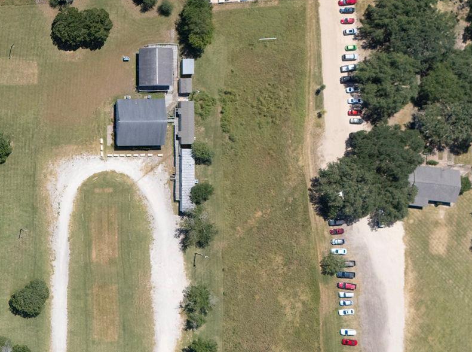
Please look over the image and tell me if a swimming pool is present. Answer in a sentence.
No, I can't see a single swimming pool in this photo.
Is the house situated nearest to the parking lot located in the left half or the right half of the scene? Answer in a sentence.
The house situated nearest to the parking lot sits on the right side.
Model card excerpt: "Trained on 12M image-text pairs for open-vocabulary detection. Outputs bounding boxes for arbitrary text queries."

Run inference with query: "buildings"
[178,102,194,145]
[179,148,195,212]
[136,47,173,86]
[114,99,168,145]
[180,59,194,74]
[177,78,191,93]
[407,169,462,205]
